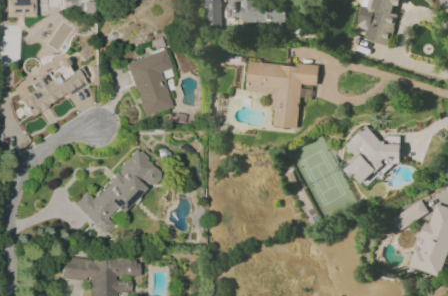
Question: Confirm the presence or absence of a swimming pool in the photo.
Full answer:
Yes, a swimming pool is visible in the scene.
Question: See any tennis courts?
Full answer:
Yes, you can see a tennis court in this photo.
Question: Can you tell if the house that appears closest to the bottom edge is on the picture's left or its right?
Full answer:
You can find the house that appears closest to the bottom edge on the left side of the picture.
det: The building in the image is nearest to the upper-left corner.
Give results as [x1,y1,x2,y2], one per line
[8,0,39,17]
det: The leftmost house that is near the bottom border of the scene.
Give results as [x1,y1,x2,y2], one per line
[62,258,142,296]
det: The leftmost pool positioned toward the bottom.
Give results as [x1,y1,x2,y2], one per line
[152,272,168,296]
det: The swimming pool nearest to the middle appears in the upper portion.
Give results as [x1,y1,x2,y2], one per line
[234,106,266,126]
